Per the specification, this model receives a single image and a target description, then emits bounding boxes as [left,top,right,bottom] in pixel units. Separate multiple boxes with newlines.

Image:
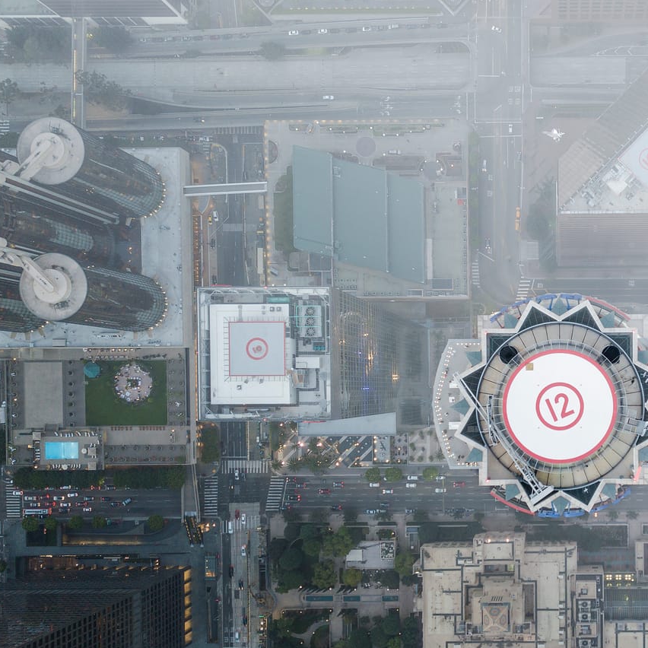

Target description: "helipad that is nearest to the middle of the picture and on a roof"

[225,319,289,380]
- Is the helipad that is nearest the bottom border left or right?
right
